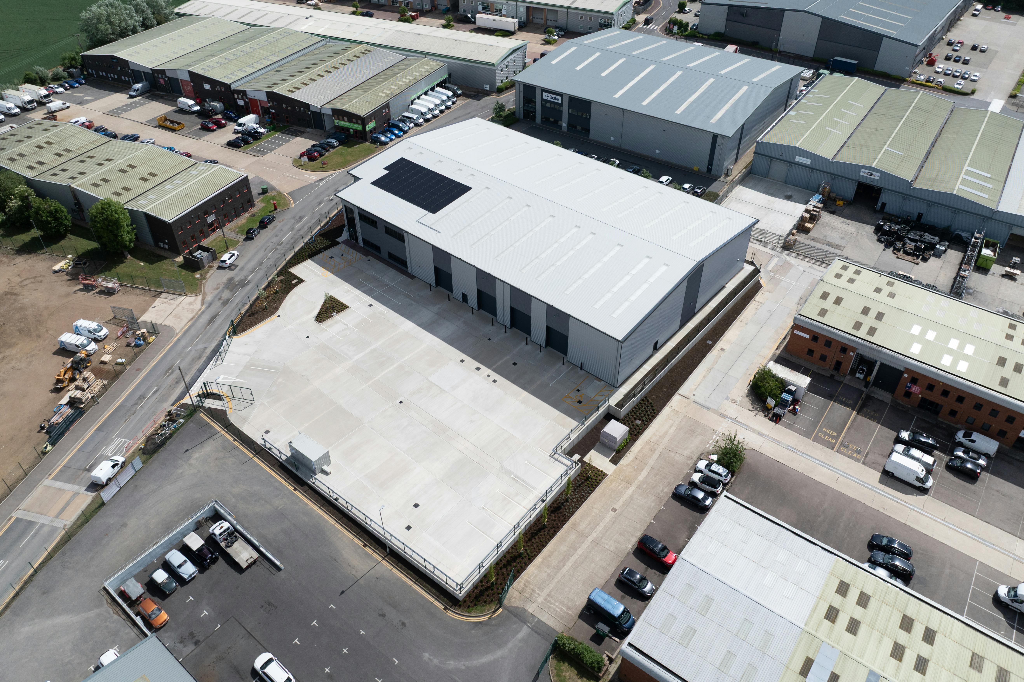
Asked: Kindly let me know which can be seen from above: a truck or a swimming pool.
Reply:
truck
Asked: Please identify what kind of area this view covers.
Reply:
industrial area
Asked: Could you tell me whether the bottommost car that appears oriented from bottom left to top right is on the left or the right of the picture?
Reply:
left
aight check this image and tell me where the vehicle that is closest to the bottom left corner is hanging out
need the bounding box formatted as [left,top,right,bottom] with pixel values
[96,641,122,676]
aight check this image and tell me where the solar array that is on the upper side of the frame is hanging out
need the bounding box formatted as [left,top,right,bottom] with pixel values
[370,160,476,214]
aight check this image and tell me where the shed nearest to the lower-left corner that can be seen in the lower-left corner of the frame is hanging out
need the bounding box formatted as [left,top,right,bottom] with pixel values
[89,632,195,682]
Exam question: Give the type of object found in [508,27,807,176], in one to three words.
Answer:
warehouse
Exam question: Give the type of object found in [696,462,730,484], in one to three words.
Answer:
car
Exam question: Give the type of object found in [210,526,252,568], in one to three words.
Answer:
truck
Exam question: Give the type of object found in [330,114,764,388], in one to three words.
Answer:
warehouse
